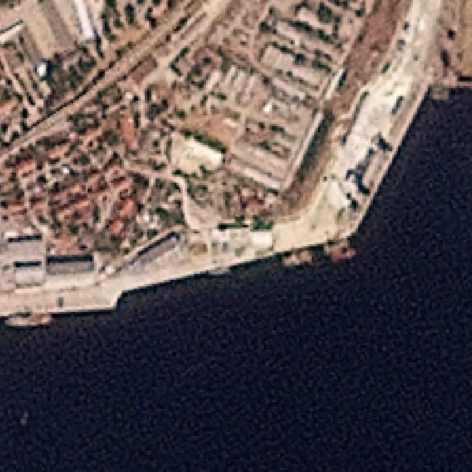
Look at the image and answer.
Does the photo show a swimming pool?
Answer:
No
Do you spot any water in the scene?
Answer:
Yes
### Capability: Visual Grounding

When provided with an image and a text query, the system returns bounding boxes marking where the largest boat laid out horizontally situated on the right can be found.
[324,241,355,257]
